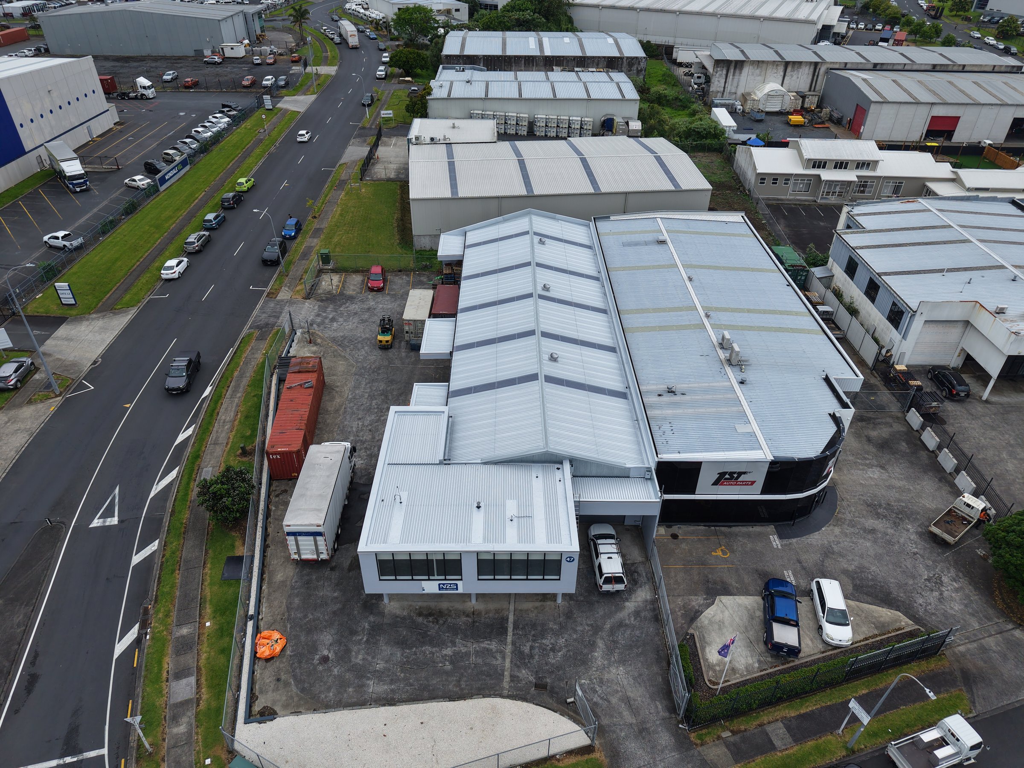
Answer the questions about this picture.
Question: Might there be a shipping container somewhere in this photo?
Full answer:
Yes, a shipping container appears in the view.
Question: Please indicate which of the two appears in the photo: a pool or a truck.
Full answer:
Looking from above, you can make out a truck.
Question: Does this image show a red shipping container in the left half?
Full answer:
Yes, in the left half there is a red shipping container.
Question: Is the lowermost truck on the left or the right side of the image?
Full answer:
The lowermost truck appears in the right half of the scene.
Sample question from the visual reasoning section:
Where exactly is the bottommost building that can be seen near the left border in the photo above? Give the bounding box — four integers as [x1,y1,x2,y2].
[0,52,135,192]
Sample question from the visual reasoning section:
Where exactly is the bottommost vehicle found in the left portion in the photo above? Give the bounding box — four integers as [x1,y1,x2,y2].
[272,446,362,575]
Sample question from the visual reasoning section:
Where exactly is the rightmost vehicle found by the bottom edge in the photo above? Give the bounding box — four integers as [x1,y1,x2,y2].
[886,709,995,768]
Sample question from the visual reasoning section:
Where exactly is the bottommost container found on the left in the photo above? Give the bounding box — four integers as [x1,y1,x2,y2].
[262,358,319,480]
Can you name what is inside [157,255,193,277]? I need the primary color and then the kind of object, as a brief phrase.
white car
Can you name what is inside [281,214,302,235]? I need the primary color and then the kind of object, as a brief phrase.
blue car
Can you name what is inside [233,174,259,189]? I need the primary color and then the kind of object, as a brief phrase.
green car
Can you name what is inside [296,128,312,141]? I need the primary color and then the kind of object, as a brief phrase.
white vehicle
